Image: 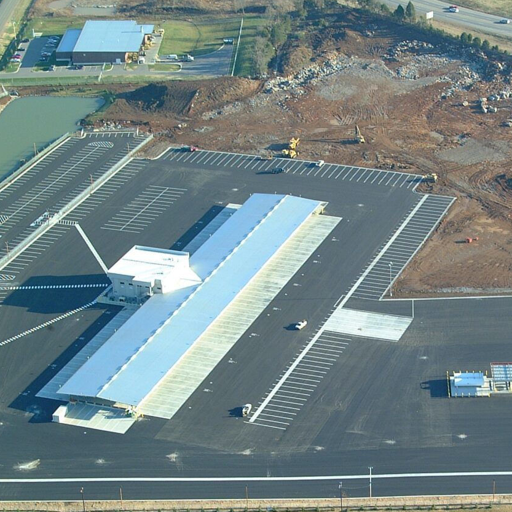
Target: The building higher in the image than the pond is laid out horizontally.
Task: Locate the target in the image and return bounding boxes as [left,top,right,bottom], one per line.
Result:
[57,20,155,62]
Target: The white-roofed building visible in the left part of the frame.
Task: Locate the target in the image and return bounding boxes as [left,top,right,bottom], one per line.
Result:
[107,242,202,301]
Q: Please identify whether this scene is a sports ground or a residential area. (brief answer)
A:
sports ground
